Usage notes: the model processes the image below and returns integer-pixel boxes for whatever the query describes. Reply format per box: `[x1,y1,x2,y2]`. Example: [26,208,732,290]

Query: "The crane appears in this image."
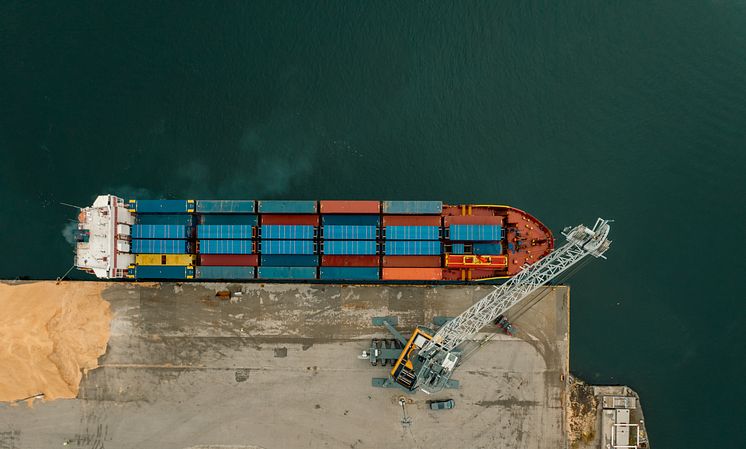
[358,216,616,396]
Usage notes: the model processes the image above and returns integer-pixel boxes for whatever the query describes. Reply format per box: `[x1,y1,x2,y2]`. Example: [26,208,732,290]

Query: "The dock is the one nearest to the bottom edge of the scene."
[590,383,650,449]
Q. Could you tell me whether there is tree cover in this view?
No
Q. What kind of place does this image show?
port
